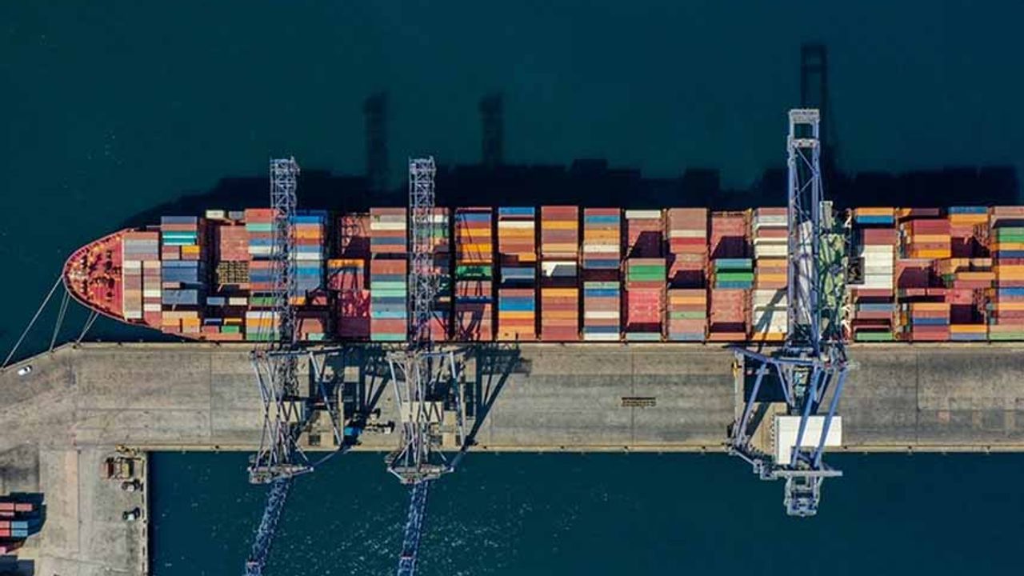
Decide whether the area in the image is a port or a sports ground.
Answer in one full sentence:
The area seen from above is a port.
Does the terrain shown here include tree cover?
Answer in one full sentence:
No, no tree cover is visible.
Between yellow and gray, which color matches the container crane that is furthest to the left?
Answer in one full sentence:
From above, the container crane that is furthest to the left appears gray.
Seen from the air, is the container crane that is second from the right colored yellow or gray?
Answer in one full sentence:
The container crane that is second from the right looks gray in the image.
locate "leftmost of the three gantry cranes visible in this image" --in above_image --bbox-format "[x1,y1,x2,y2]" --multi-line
[244,156,360,576]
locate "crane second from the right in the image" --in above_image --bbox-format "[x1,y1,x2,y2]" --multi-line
[386,156,476,576]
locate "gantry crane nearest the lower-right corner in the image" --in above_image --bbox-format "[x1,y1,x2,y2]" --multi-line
[717,109,853,516]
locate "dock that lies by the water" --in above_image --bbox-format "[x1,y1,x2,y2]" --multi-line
[148,344,1024,451]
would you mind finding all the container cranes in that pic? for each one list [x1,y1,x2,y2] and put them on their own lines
[244,156,360,576]
[717,109,853,516]
[386,156,476,576]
